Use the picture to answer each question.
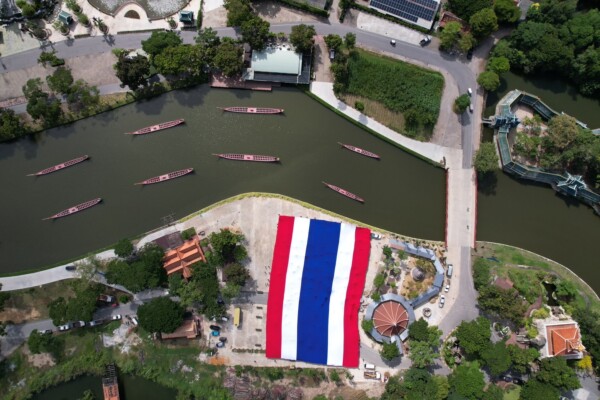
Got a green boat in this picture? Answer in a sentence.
No, there's no green boat here.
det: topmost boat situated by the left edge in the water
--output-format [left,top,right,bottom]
[26,155,88,176]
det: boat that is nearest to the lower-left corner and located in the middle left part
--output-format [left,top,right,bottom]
[42,198,101,219]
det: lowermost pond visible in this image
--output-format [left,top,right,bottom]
[30,373,180,400]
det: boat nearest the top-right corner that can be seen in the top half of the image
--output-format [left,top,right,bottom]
[339,142,381,158]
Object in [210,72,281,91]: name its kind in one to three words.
pier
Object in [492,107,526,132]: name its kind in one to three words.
building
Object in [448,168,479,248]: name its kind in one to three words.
bridge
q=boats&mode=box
[339,142,381,158]
[323,182,366,201]
[214,153,281,160]
[42,198,101,219]
[219,106,284,112]
[127,119,185,134]
[134,168,194,184]
[26,155,88,176]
